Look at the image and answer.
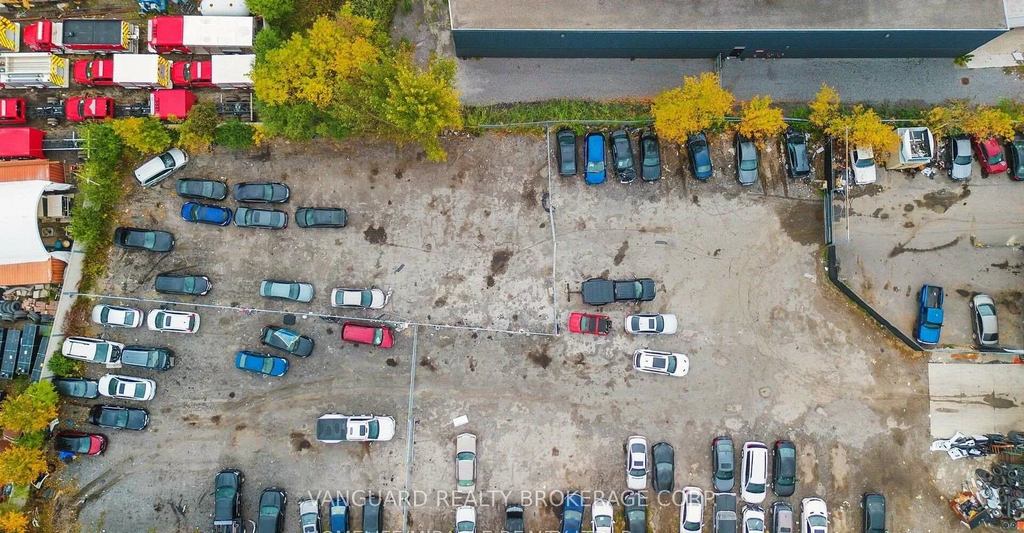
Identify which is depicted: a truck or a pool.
truck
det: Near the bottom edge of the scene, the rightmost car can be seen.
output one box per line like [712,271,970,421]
[861,492,889,533]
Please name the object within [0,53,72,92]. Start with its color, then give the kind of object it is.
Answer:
white truck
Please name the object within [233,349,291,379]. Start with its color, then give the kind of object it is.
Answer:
blue car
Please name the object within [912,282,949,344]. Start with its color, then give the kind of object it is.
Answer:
blue vehicle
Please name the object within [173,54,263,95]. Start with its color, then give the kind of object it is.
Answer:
white truck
